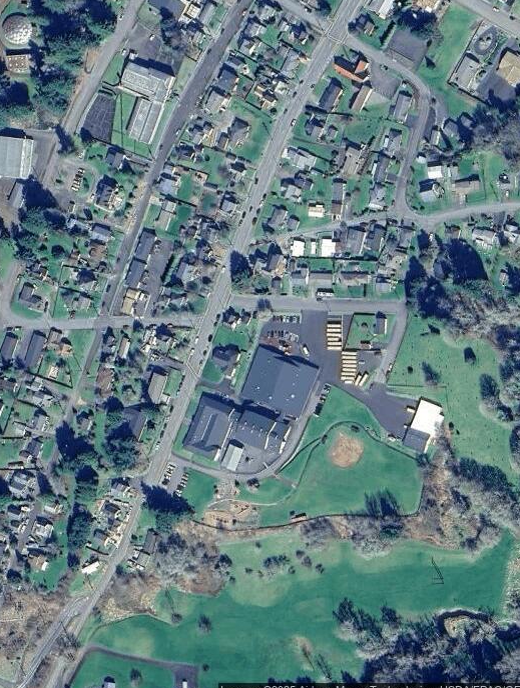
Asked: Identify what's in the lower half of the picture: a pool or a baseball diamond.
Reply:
baseball diamond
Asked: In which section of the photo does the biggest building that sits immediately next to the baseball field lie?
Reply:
center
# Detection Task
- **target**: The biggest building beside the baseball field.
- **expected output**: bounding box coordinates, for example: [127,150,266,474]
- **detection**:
[184,344,323,460]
